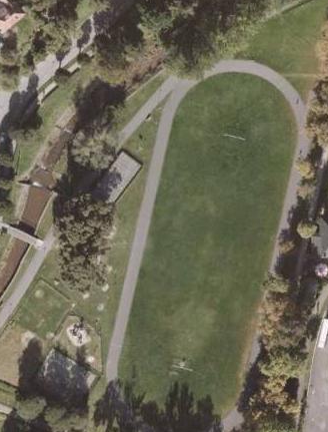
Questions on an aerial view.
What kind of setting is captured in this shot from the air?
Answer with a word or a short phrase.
sports ground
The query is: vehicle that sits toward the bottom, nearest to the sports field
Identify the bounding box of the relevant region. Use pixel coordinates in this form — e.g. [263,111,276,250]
[315,319,328,348]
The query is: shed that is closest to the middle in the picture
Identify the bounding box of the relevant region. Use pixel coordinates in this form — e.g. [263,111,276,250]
[94,152,142,203]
